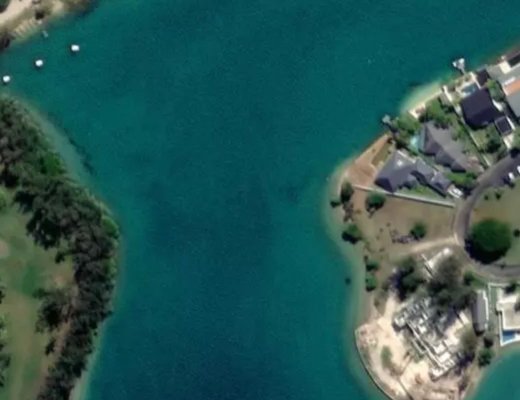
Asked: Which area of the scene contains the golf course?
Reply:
bottom left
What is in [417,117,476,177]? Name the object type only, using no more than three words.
house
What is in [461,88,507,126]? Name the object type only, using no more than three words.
house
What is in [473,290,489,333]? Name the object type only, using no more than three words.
shed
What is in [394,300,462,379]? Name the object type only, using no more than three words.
building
